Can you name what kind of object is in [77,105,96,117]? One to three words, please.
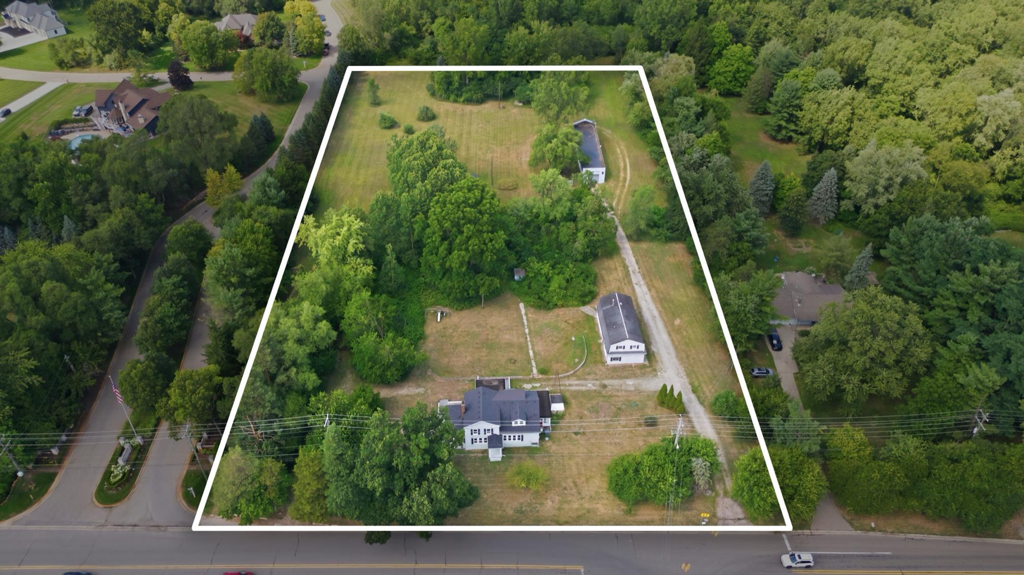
vehicle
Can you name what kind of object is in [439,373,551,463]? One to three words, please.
house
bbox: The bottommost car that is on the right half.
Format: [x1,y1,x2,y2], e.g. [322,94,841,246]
[780,552,817,569]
